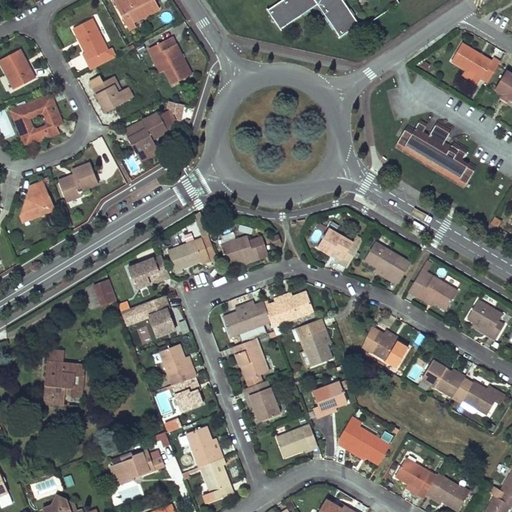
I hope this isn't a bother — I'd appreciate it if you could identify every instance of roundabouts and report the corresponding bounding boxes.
[206,62,351,208]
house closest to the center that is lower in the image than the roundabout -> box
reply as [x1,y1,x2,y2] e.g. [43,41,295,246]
[222,235,269,264]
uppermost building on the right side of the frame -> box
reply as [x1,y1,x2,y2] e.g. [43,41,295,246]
[267,0,360,38]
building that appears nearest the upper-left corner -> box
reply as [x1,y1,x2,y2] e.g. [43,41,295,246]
[0,49,37,89]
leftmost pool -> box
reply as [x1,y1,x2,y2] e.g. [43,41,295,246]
[34,478,58,492]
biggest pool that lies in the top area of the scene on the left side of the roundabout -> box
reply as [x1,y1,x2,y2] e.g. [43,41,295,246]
[124,152,142,176]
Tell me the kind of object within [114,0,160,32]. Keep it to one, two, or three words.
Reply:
house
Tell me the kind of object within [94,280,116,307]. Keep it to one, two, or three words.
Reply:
building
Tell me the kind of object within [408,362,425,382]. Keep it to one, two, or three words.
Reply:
swimming pool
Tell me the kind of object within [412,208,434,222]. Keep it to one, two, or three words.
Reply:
vehicle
